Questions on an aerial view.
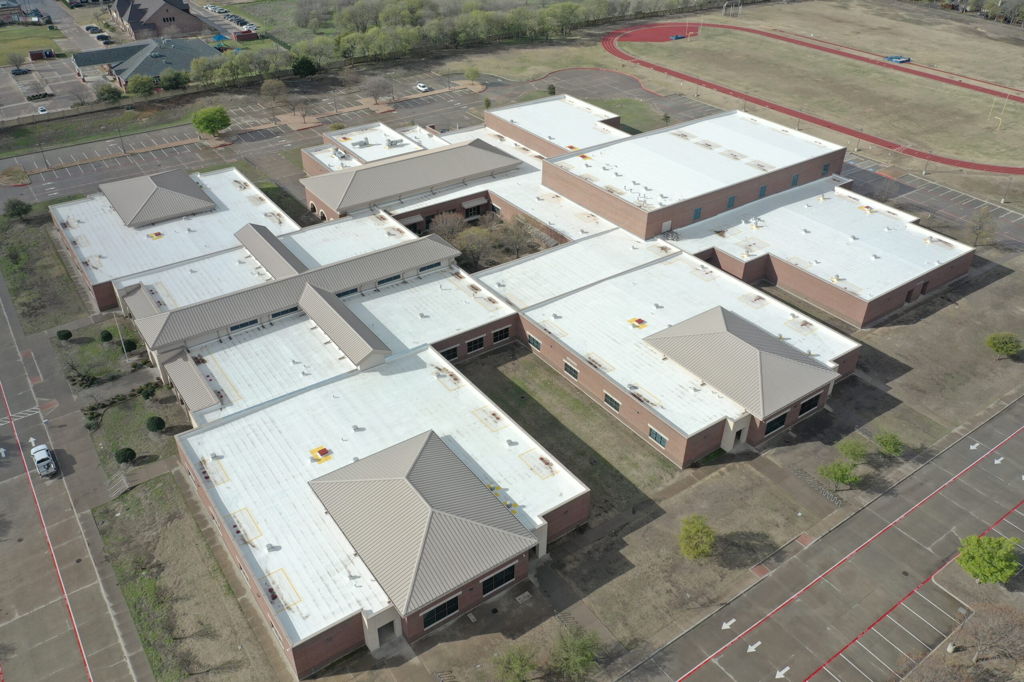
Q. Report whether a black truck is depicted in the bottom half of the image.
No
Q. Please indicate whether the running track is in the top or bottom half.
top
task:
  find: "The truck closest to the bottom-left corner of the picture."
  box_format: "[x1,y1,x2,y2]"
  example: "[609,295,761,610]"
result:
[28,442,55,475]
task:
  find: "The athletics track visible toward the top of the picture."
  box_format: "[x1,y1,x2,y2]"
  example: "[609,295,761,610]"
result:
[598,22,1024,172]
